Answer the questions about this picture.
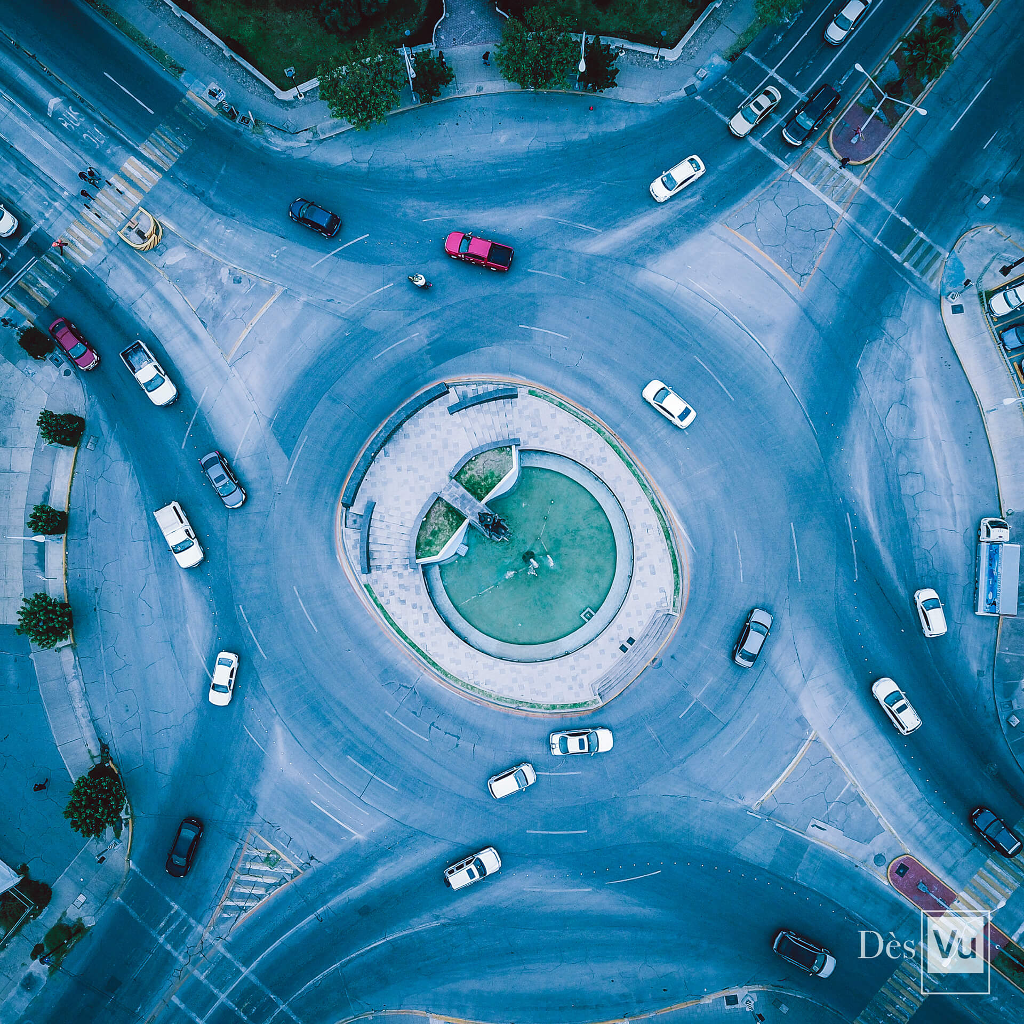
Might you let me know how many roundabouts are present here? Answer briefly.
1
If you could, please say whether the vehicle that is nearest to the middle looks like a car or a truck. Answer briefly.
car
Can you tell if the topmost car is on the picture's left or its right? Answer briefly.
right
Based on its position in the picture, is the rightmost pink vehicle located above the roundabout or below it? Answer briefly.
above it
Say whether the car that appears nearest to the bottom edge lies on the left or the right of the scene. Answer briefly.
right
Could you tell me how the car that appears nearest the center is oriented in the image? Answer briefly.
at an angle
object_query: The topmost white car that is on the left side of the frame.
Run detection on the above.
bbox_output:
[0,207,20,241]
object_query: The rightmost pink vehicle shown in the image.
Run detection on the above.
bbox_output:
[444,232,517,272]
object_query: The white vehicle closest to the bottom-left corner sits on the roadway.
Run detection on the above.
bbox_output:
[207,650,241,707]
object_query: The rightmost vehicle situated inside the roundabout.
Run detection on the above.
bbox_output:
[734,607,770,669]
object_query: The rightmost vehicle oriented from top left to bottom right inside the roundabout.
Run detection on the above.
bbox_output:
[640,378,700,431]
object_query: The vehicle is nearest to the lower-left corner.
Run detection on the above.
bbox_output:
[167,816,205,878]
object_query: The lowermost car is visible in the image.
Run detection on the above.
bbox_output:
[772,930,837,978]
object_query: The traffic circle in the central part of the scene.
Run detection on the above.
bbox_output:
[238,270,788,821]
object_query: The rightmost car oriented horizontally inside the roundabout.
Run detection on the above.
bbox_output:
[550,727,614,757]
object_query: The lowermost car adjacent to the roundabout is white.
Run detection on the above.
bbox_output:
[443,846,503,893]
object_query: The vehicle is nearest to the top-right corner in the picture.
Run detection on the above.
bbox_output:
[824,0,869,48]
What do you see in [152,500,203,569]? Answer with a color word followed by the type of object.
white vehicle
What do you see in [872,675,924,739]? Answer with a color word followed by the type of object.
white car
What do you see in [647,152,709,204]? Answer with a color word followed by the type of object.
white car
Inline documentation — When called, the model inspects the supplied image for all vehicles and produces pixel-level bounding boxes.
[48,314,100,372]
[0,207,20,241]
[784,79,840,148]
[167,816,205,878]
[824,0,869,48]
[974,517,1020,618]
[118,338,177,406]
[984,279,1024,319]
[772,930,837,978]
[729,82,784,141]
[913,587,947,639]
[734,607,770,669]
[152,500,203,569]
[444,232,517,272]
[647,152,709,204]
[640,378,700,431]
[200,448,246,510]
[443,846,503,893]
[872,675,924,739]
[207,650,241,707]
[287,198,344,238]
[485,762,538,800]
[997,321,1024,352]
[550,727,614,757]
